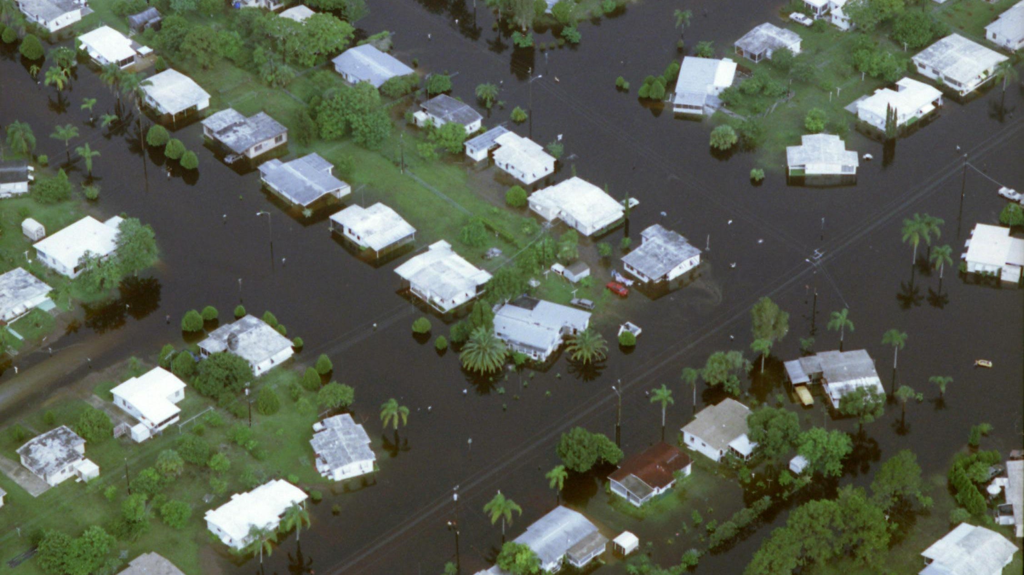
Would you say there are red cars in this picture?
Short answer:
Yes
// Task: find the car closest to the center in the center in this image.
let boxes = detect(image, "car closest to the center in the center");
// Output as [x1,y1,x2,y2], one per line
[564,296,600,313]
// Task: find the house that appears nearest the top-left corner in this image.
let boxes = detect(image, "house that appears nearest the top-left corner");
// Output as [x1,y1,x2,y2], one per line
[24,0,81,29]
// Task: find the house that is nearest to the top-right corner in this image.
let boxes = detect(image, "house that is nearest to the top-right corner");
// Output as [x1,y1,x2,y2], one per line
[986,2,1024,51]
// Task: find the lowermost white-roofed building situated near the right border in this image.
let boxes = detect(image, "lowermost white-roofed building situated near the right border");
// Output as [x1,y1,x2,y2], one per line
[915,519,1015,575]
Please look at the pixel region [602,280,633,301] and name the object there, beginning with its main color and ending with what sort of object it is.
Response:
red car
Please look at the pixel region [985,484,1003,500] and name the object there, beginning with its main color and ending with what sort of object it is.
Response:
white umbrella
